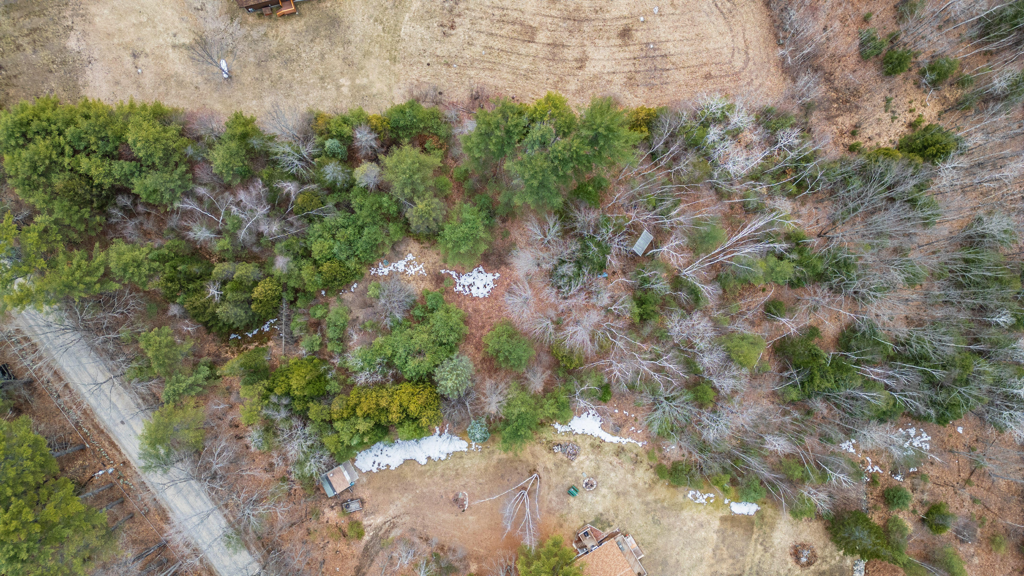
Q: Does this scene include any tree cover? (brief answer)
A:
Yes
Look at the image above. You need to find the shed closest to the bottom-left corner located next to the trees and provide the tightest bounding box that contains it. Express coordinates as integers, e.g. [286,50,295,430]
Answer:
[321,458,361,499]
